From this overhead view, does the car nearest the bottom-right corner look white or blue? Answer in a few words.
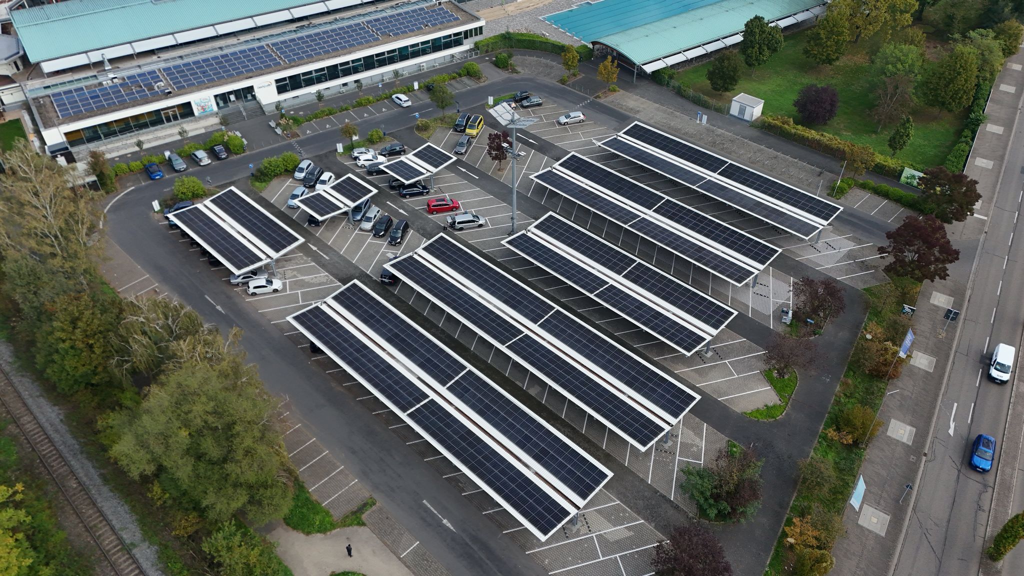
blue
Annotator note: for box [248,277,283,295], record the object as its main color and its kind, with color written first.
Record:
white car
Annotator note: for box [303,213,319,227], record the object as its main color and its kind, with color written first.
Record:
black car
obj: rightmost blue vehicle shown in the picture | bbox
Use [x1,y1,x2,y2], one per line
[969,431,996,471]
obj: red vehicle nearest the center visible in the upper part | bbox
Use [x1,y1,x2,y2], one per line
[425,196,460,214]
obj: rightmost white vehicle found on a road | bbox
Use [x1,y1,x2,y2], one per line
[987,340,1015,383]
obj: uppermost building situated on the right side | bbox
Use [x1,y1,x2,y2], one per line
[594,0,824,85]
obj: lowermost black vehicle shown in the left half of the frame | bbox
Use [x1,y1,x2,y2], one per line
[300,339,324,357]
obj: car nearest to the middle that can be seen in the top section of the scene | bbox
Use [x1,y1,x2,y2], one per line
[445,212,486,231]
